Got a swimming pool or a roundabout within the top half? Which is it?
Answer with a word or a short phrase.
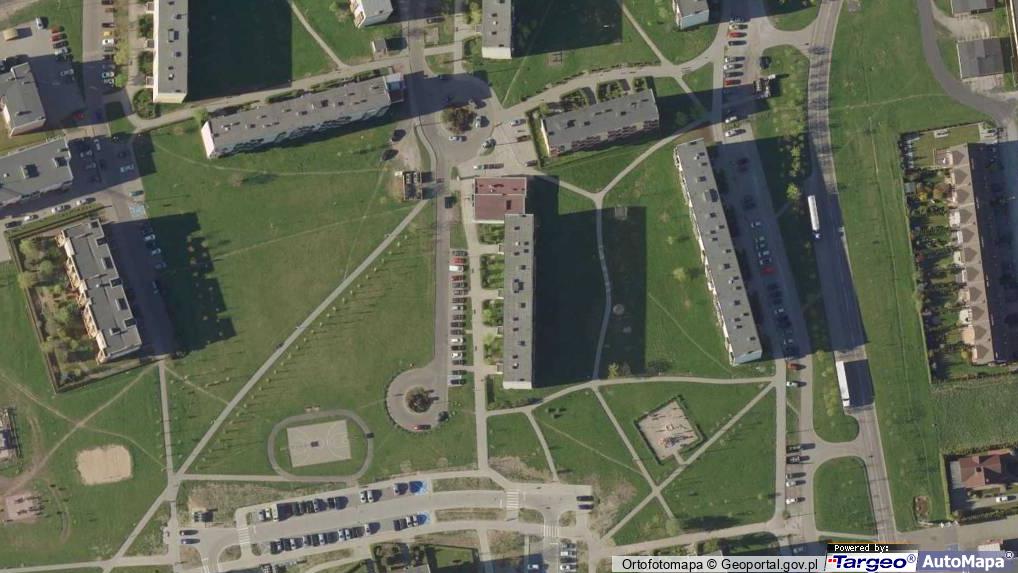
roundabout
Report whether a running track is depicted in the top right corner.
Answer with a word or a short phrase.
No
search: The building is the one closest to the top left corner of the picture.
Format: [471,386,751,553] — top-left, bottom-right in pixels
[0,64,45,134]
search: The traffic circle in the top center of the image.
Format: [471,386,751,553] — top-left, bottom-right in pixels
[419,74,503,166]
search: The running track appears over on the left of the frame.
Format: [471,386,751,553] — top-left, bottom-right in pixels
[268,409,374,482]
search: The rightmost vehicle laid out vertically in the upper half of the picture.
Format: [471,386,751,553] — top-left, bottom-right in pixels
[808,194,821,239]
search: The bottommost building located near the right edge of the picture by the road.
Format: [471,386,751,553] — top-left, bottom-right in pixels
[978,539,1007,572]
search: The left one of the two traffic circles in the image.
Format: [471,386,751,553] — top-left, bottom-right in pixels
[387,360,448,432]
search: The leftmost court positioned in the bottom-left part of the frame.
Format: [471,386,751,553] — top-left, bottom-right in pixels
[77,445,132,484]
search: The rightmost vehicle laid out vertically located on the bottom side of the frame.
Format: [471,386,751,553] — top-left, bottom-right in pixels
[838,360,853,407]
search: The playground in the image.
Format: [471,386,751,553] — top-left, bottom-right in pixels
[637,399,698,459]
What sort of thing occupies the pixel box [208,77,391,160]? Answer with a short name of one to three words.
building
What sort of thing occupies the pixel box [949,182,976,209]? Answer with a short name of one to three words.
house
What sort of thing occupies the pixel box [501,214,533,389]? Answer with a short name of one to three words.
building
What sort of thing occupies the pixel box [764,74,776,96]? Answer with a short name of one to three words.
vehicle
